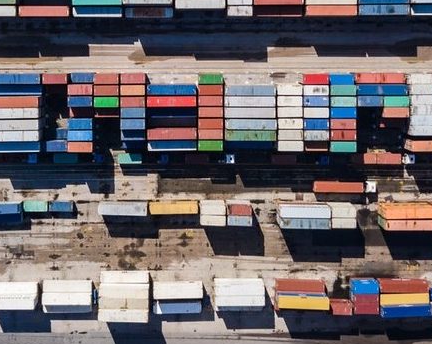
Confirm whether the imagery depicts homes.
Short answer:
No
